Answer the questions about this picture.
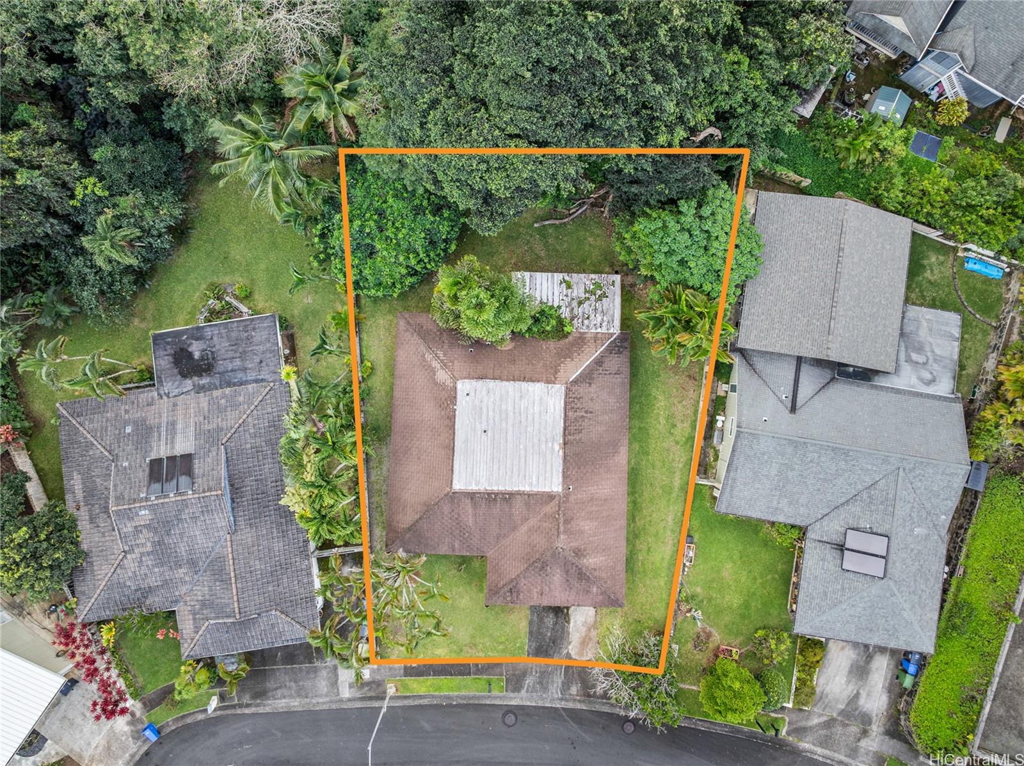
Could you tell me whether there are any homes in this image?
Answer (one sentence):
Yes, this view includes a home.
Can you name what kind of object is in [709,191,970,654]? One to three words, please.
house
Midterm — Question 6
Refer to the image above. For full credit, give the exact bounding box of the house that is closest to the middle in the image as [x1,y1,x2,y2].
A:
[385,311,631,608]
